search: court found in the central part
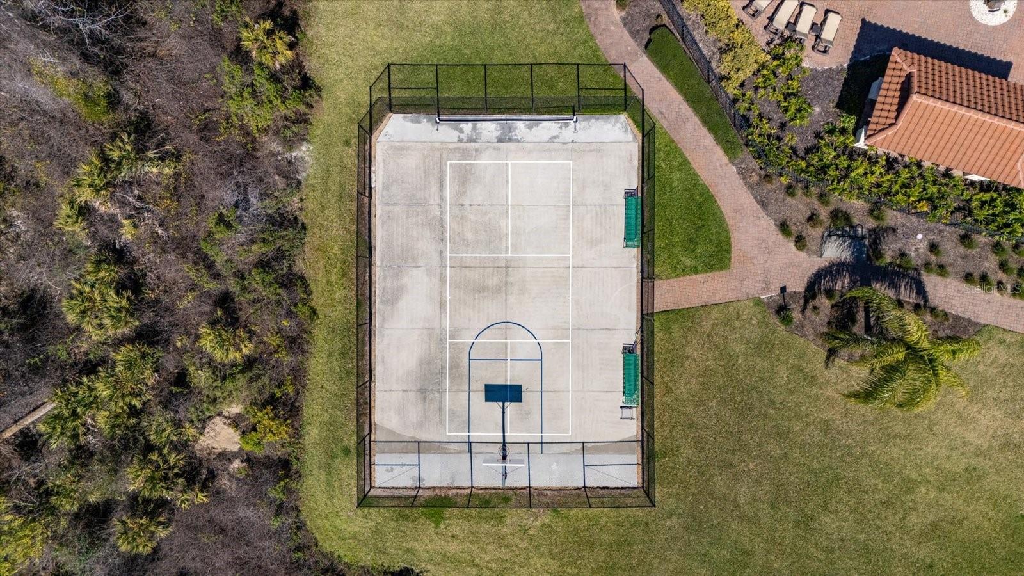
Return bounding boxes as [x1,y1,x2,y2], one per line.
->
[374,115,639,487]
